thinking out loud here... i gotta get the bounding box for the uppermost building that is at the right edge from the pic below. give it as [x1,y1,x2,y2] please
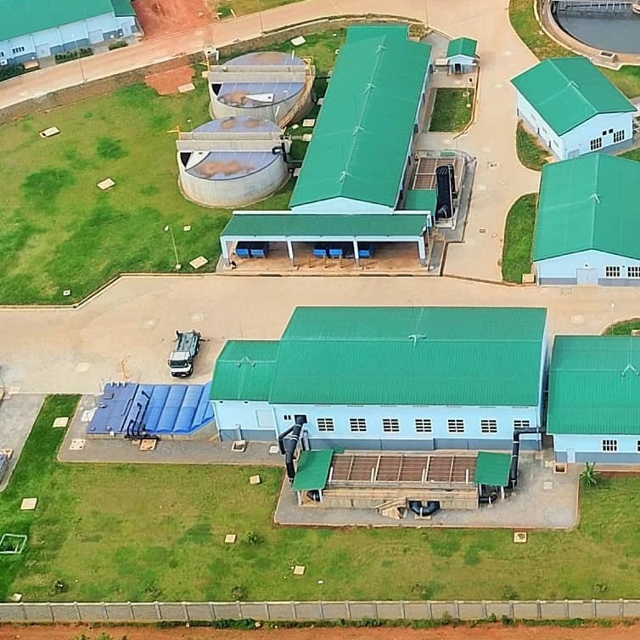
[506,55,638,162]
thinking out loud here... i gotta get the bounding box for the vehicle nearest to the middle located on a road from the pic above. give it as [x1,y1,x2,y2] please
[160,319,214,373]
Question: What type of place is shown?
industrial area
